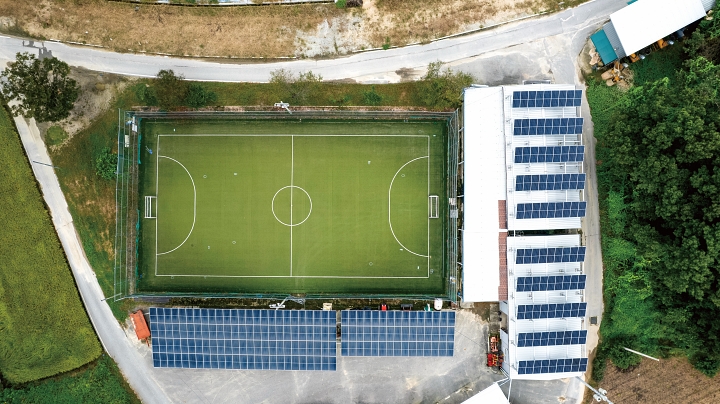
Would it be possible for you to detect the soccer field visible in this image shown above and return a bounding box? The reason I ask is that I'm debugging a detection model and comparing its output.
[141,118,449,294]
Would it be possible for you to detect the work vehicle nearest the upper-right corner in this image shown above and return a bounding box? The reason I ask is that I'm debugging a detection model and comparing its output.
[650,39,676,53]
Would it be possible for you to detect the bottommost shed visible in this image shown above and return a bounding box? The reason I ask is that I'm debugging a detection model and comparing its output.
[461,373,508,404]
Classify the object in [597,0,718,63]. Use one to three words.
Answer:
barn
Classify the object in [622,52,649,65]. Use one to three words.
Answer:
vehicle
